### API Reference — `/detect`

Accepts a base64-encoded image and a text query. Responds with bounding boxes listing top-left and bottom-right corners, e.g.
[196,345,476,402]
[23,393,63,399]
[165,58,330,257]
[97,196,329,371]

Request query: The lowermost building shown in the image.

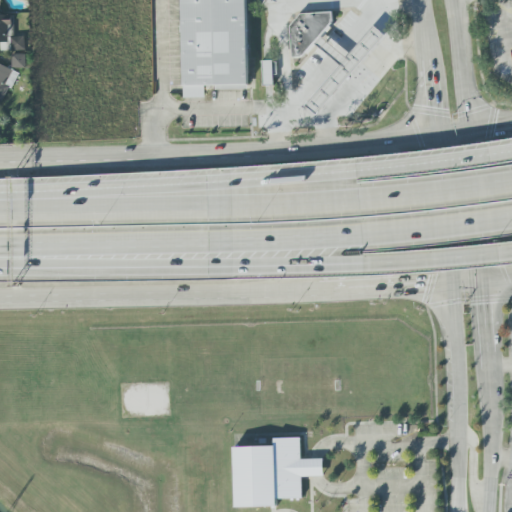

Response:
[232,437,324,508]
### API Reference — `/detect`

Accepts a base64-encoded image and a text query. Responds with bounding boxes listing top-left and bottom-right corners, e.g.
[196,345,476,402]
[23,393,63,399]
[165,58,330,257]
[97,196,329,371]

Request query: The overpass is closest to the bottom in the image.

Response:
[365,242,512,274]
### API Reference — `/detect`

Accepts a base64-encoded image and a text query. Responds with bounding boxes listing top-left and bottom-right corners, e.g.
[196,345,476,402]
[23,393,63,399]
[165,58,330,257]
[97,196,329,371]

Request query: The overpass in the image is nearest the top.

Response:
[356,138,512,178]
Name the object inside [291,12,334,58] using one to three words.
building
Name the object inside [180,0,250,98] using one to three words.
building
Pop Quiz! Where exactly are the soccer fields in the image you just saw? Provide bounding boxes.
[261,357,352,416]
